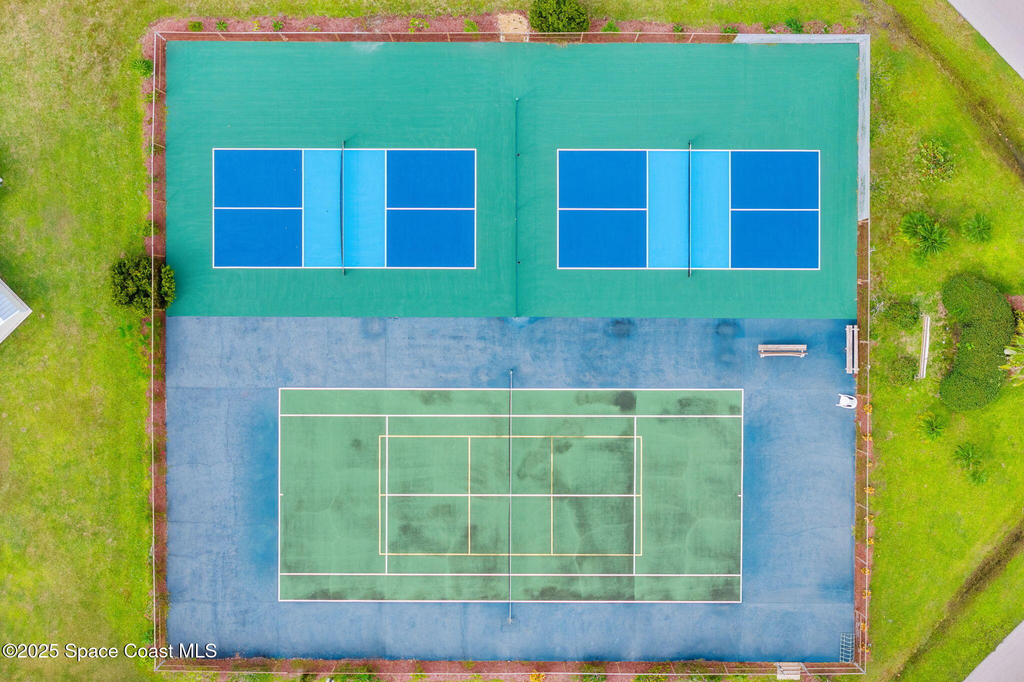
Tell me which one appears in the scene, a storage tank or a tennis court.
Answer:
tennis court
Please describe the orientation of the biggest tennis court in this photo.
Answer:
from left to right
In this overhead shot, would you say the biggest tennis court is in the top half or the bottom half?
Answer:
bottom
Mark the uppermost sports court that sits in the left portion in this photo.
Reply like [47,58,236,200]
[212,148,476,269]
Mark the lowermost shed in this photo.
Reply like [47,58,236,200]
[0,277,34,346]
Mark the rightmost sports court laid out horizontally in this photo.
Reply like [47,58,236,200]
[557,148,821,270]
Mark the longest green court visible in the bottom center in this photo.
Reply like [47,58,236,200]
[278,388,744,604]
